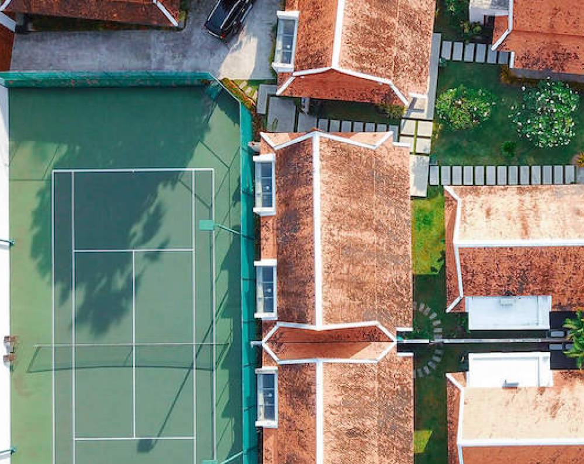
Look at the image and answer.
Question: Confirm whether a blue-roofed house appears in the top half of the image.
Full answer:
No, I see no blue-roofed house in the top half of the image.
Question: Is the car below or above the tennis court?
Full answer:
Looking at the photo, you'll find the car above the tennis court.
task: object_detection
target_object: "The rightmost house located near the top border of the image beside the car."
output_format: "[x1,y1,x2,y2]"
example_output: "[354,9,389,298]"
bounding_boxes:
[274,0,433,108]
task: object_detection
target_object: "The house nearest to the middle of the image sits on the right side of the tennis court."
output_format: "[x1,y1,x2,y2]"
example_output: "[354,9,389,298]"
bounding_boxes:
[254,130,414,342]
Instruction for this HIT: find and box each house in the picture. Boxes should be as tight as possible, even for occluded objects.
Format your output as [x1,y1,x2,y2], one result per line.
[256,341,415,464]
[0,0,184,29]
[470,0,584,75]
[443,185,584,330]
[274,0,433,108]
[254,130,414,342]
[444,352,584,464]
